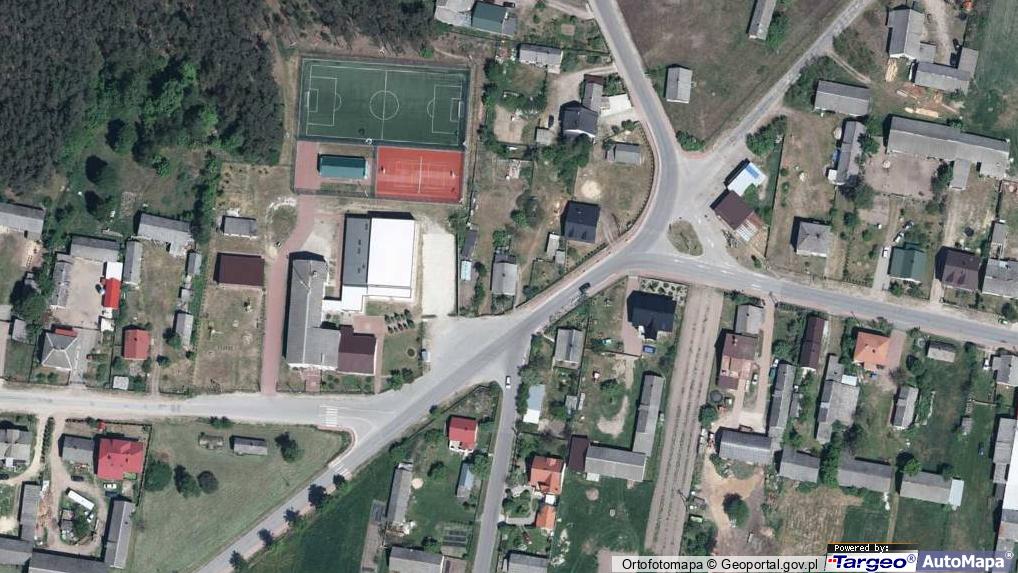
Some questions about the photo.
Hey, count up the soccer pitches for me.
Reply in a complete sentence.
The picture shows just 1 soccer pitch.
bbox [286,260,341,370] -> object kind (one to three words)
building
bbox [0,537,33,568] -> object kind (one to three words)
barn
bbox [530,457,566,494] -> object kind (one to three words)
house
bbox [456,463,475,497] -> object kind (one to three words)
shed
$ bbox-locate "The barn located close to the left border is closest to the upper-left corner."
[0,204,44,241]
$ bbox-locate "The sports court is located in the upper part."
[376,147,464,202]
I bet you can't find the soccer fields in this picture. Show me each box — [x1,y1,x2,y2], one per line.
[297,58,470,146]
